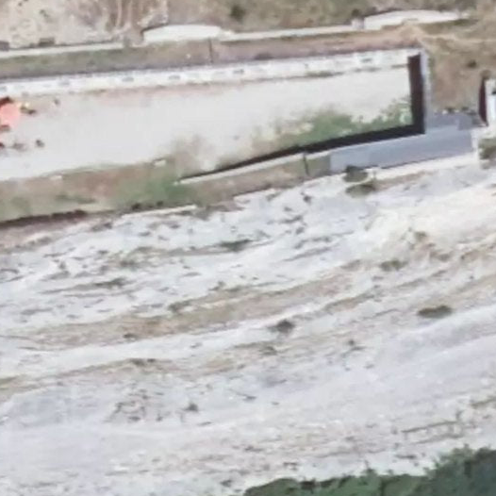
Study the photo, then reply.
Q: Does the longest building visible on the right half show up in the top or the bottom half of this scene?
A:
top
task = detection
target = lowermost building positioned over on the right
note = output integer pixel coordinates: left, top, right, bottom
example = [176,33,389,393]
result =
[330,125,473,173]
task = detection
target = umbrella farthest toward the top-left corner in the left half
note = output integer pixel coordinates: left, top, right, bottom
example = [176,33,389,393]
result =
[0,100,20,125]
